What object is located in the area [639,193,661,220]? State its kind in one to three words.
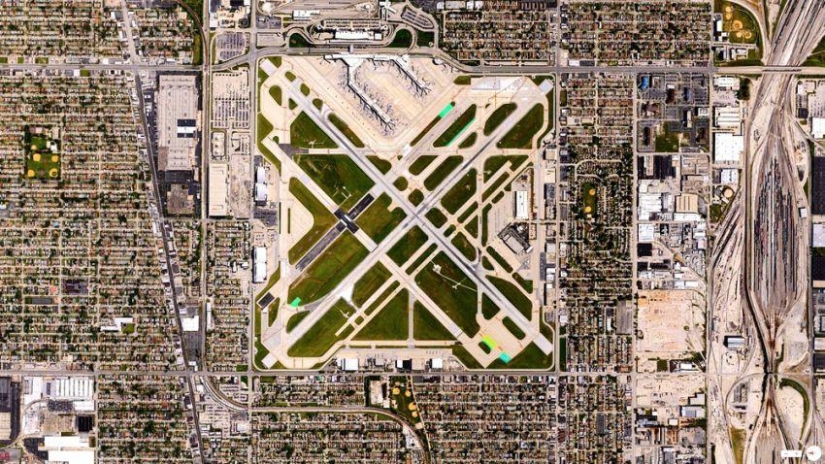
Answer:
building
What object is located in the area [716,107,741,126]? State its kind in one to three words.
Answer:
building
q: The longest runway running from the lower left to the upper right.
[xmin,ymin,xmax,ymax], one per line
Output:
[272,82,543,358]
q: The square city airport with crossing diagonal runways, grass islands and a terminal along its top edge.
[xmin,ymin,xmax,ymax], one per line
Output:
[253,54,555,371]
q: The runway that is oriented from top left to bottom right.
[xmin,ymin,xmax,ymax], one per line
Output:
[261,135,491,367]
